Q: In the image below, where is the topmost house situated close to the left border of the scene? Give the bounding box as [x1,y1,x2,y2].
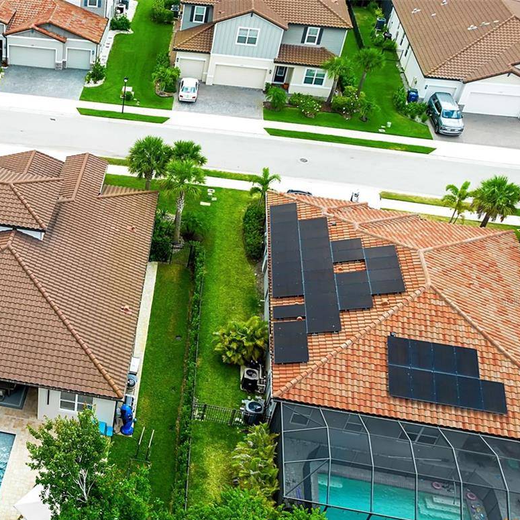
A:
[0,0,117,69]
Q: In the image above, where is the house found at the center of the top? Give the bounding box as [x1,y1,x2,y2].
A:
[173,0,353,96]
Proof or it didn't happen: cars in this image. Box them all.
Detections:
[429,96,477,136]
[172,75,199,102]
